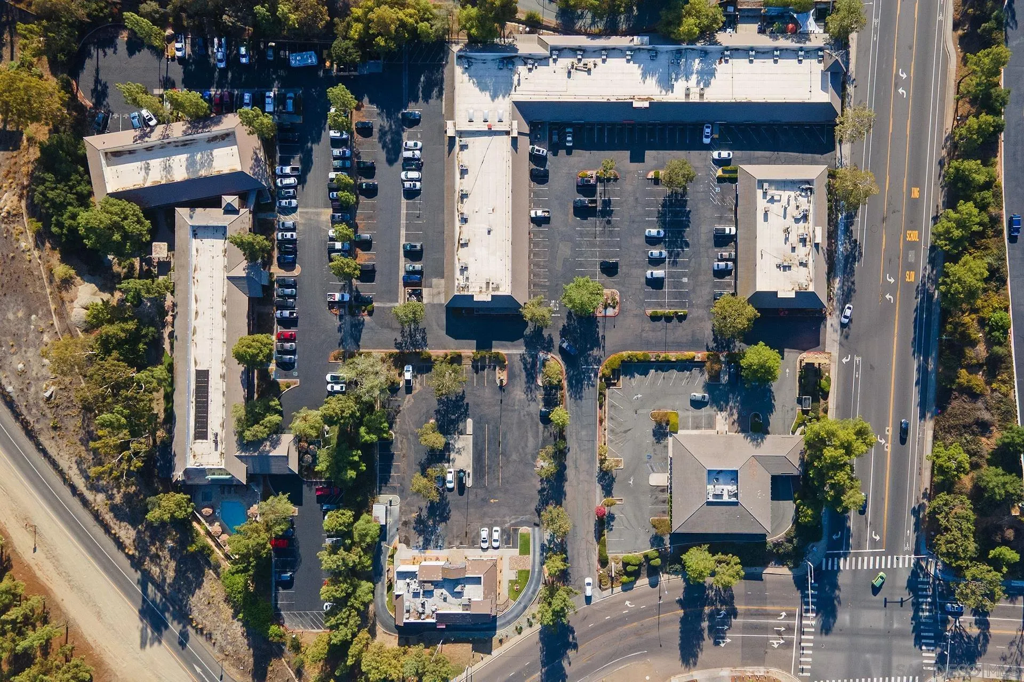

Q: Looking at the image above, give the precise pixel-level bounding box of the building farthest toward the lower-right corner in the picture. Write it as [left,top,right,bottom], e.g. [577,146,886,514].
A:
[671,434,802,533]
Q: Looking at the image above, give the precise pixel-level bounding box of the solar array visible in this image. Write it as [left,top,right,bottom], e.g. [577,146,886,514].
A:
[193,370,209,443]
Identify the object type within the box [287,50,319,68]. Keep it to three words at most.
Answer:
camper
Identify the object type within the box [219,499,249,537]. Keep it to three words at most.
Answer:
swimming pool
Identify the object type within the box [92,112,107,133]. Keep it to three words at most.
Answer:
car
